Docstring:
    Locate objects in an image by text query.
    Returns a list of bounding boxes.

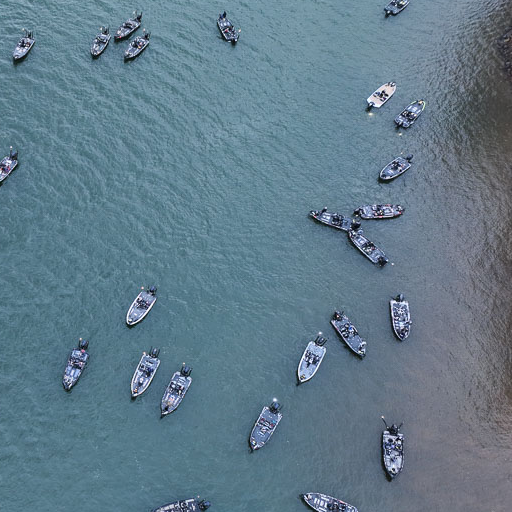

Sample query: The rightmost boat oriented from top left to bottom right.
[349,229,394,267]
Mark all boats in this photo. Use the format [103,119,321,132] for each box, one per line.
[384,0,410,16]
[160,363,192,414]
[219,14,240,44]
[131,348,160,397]
[299,333,326,383]
[380,152,413,181]
[251,399,282,451]
[304,492,360,512]
[383,418,405,479]
[125,30,149,59]
[92,26,111,56]
[128,285,157,326]
[349,229,394,267]
[395,99,425,128]
[12,29,35,60]
[154,497,208,512]
[0,147,18,182]
[114,14,141,40]
[367,80,397,109]
[354,204,406,219]
[332,309,366,357]
[64,341,89,390]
